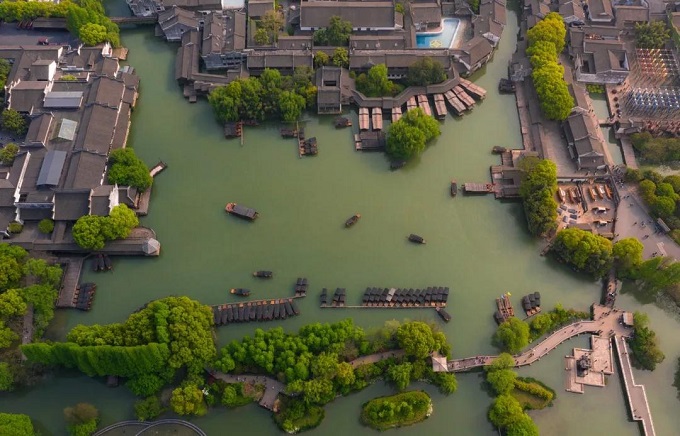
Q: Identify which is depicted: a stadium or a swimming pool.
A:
swimming pool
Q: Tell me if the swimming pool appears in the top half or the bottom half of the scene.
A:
top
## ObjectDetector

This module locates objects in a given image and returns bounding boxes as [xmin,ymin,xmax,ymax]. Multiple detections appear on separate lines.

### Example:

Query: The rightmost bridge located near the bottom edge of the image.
[612,336,657,436]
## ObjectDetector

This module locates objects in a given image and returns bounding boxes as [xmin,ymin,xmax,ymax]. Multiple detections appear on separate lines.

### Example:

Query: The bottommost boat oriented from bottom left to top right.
[344,214,361,233]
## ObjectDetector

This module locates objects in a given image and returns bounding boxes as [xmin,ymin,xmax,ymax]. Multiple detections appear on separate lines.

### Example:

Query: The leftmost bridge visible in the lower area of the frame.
[447,319,602,371]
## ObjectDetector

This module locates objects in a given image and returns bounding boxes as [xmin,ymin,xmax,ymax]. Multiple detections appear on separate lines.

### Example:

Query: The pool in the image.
[416,19,460,49]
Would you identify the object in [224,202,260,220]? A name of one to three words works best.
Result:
boat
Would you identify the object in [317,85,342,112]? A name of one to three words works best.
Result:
house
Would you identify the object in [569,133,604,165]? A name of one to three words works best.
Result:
house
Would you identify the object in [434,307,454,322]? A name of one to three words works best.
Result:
boat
